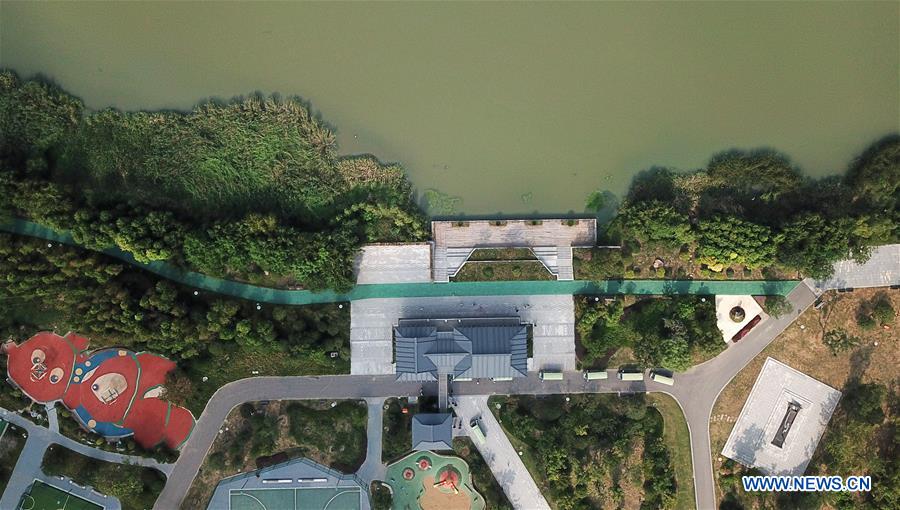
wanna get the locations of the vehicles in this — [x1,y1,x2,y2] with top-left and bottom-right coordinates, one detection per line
[614,371,643,382]
[645,372,675,386]
[447,373,474,382]
[536,371,564,381]
[580,370,608,381]
[469,418,487,446]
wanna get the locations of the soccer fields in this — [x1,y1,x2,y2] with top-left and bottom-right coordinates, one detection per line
[22,478,106,510]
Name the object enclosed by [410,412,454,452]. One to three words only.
building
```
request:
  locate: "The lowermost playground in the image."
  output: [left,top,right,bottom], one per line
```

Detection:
[385,450,488,510]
